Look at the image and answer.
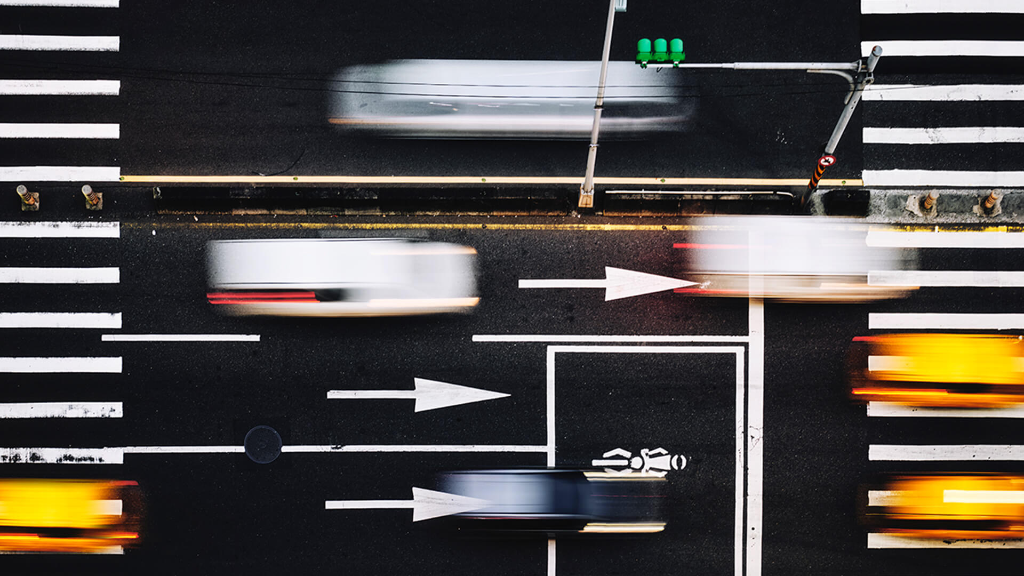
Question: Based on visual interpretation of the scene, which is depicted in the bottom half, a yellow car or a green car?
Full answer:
Looking in the bottom half, you will find a yellow car.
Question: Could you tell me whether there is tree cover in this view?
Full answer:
No, the scene doesn't show any tree cover.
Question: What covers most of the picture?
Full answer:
The scene is dominated by paved ground.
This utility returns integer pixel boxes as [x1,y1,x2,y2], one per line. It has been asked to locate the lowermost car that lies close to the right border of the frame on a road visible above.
[908,467,1024,538]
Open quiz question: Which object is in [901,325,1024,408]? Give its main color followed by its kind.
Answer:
yellow car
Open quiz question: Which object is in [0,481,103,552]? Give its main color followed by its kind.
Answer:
yellow car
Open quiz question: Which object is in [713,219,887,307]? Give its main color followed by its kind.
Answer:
white vehicle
